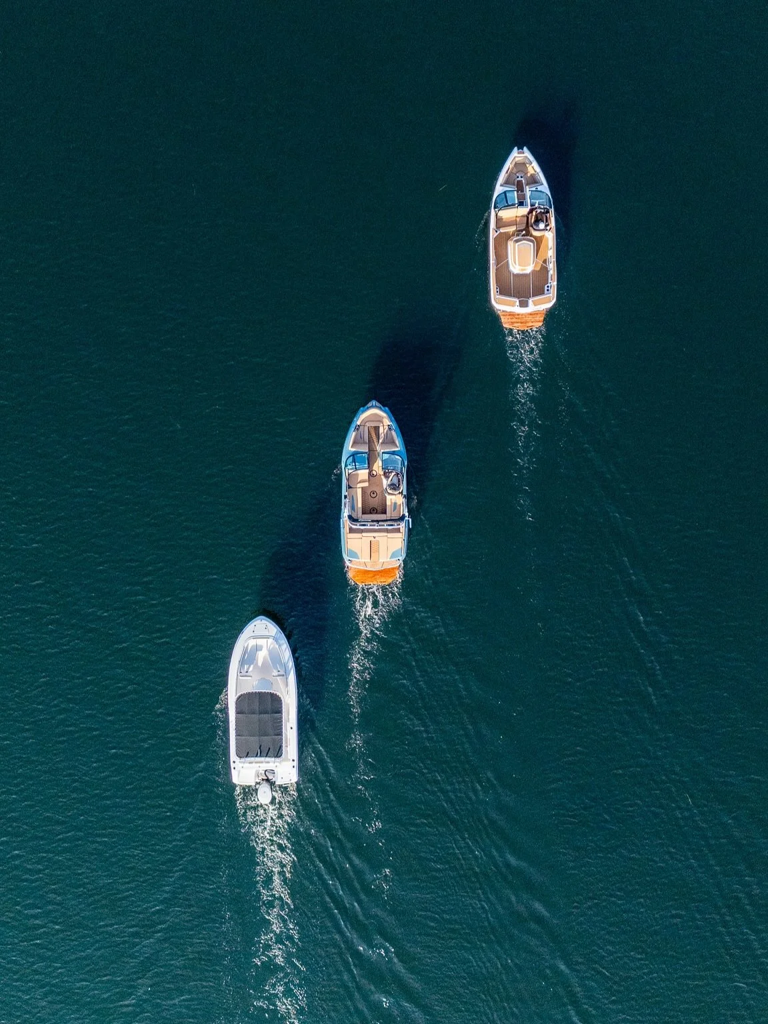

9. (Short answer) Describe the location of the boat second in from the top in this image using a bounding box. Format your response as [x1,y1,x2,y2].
[340,400,412,585]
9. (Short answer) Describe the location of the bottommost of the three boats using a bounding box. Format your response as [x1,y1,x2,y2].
[228,615,299,801]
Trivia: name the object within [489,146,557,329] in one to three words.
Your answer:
boat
